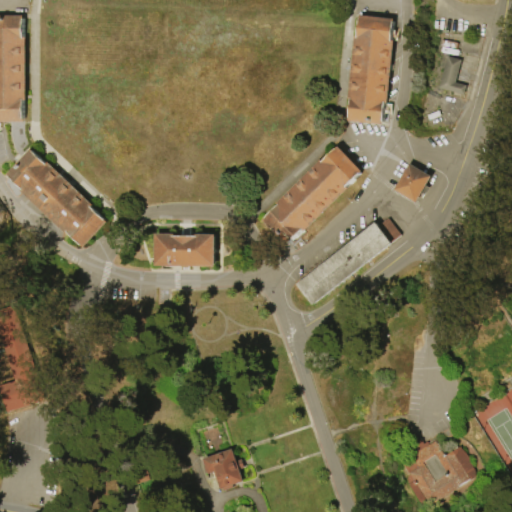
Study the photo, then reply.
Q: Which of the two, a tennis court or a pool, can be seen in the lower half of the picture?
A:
tennis court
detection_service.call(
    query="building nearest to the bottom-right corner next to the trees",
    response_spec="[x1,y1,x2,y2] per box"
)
[406,436,476,504]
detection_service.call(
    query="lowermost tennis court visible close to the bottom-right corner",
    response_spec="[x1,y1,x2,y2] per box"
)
[476,390,512,468]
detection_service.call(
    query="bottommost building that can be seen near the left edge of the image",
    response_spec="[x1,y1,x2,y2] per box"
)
[8,148,109,247]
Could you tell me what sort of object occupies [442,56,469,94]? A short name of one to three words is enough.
house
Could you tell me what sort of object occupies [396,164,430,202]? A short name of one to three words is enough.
building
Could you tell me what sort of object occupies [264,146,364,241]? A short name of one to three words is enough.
building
